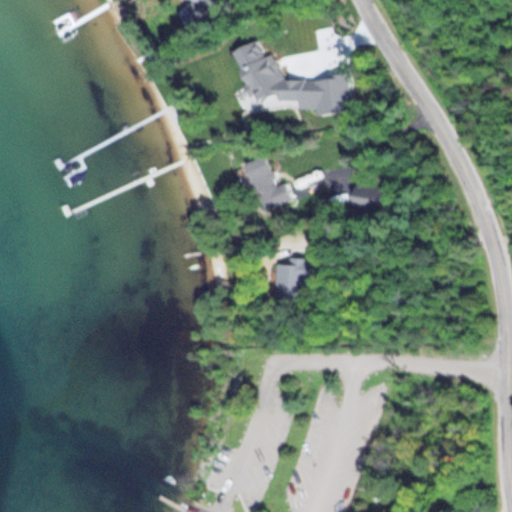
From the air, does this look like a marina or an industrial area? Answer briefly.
marina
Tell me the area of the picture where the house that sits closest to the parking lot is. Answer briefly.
center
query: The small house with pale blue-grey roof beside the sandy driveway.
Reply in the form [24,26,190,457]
[276,258,306,291]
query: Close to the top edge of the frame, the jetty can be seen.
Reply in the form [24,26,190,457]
[53,2,112,39]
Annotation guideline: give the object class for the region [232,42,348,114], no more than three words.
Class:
house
